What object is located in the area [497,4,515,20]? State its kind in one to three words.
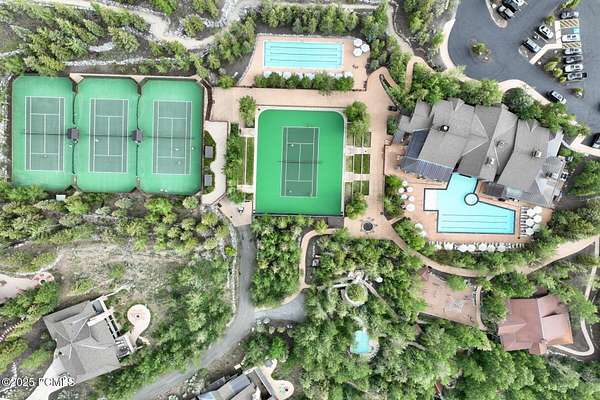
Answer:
car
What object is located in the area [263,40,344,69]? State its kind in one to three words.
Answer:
swimming pool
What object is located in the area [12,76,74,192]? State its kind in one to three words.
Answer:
tennis court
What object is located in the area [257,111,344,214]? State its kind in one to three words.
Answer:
tennis court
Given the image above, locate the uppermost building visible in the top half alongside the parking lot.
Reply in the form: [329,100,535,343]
[393,100,566,204]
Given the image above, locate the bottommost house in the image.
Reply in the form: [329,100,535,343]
[196,365,275,400]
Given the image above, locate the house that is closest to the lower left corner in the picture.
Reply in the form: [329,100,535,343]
[43,289,125,380]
